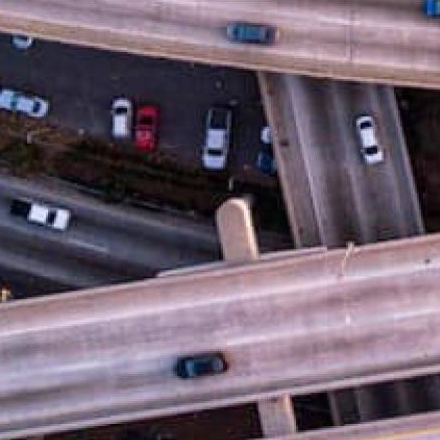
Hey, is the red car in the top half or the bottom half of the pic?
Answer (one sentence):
Seen from above, the red car lies in the top half of the view.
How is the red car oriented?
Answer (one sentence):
What the image shows is the red car lying up and down.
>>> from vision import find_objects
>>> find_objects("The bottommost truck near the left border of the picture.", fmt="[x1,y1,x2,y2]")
[10,199,71,230]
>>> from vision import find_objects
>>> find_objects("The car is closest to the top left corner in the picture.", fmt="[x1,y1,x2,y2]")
[10,32,35,48]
